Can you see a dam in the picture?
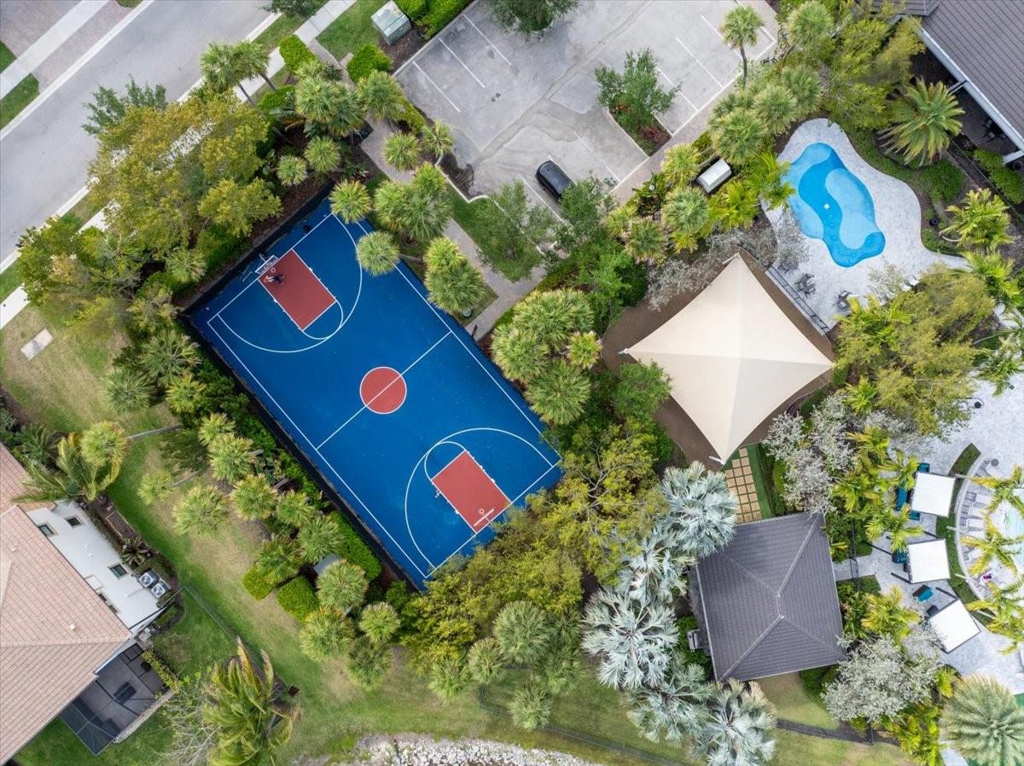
No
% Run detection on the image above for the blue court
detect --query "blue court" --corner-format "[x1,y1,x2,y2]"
[183,181,584,602]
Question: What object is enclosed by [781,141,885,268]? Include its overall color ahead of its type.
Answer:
blue swimming pool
